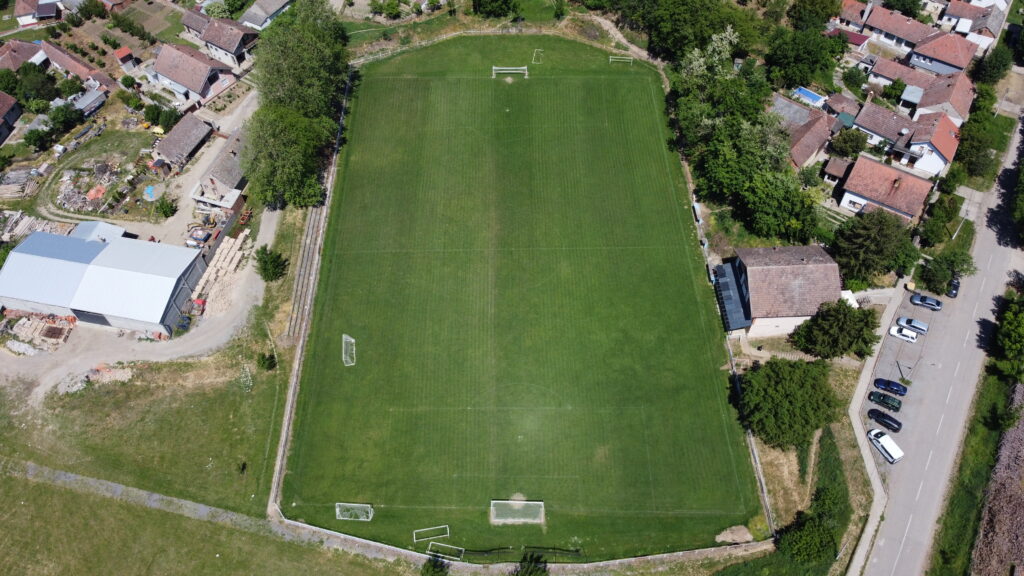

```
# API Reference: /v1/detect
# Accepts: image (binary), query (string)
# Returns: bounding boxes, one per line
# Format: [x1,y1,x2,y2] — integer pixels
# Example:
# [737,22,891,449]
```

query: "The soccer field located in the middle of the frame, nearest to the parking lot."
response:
[273,36,772,565]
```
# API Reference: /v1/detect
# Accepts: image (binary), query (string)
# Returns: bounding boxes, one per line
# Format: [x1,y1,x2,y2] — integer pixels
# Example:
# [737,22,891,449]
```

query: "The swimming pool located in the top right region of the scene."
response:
[792,87,829,109]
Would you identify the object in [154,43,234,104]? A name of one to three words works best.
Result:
house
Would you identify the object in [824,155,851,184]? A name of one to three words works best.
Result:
shed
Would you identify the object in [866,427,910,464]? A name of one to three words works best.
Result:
van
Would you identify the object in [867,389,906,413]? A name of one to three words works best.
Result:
car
